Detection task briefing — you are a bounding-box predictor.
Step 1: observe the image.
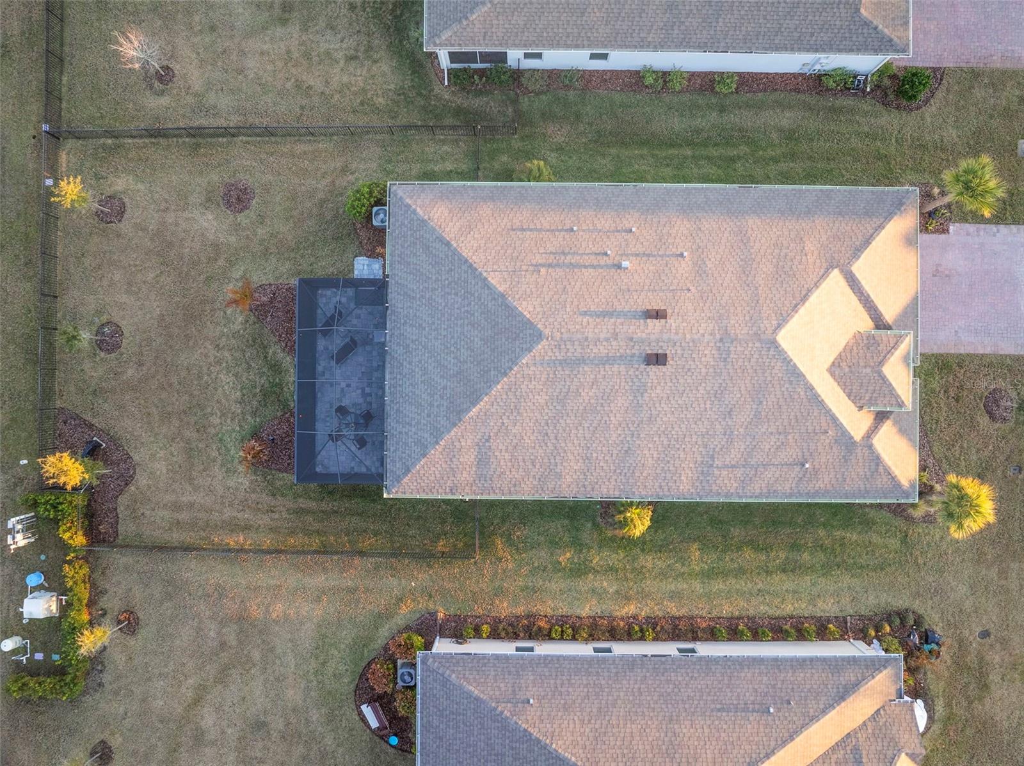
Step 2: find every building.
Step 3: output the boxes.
[384,182,920,503]
[416,630,925,766]
[423,0,913,83]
